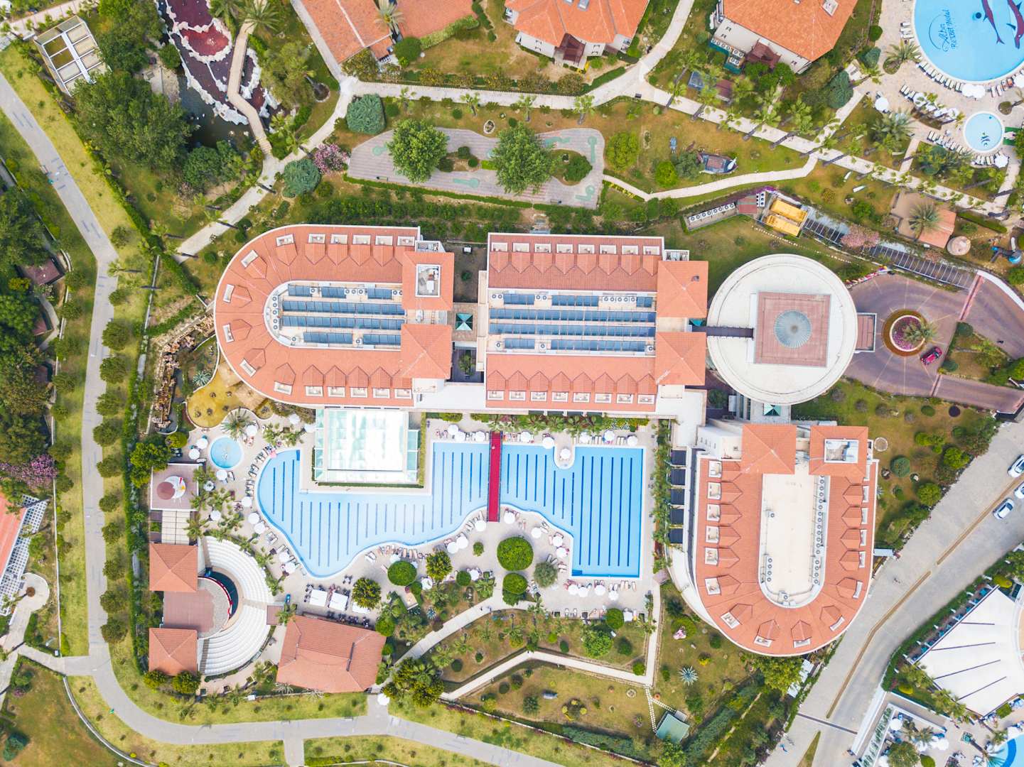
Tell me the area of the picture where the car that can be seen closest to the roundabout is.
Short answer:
right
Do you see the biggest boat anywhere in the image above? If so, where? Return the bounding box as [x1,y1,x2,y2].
[700,154,735,170]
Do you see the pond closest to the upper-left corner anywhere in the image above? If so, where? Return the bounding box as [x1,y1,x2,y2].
[153,0,273,149]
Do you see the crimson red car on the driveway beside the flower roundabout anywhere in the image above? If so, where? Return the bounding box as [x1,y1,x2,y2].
[916,344,943,367]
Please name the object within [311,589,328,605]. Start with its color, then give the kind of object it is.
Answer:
white umbrella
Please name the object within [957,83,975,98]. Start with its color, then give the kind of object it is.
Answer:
white umbrella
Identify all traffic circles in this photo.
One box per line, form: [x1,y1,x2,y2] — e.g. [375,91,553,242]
[883,310,928,356]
